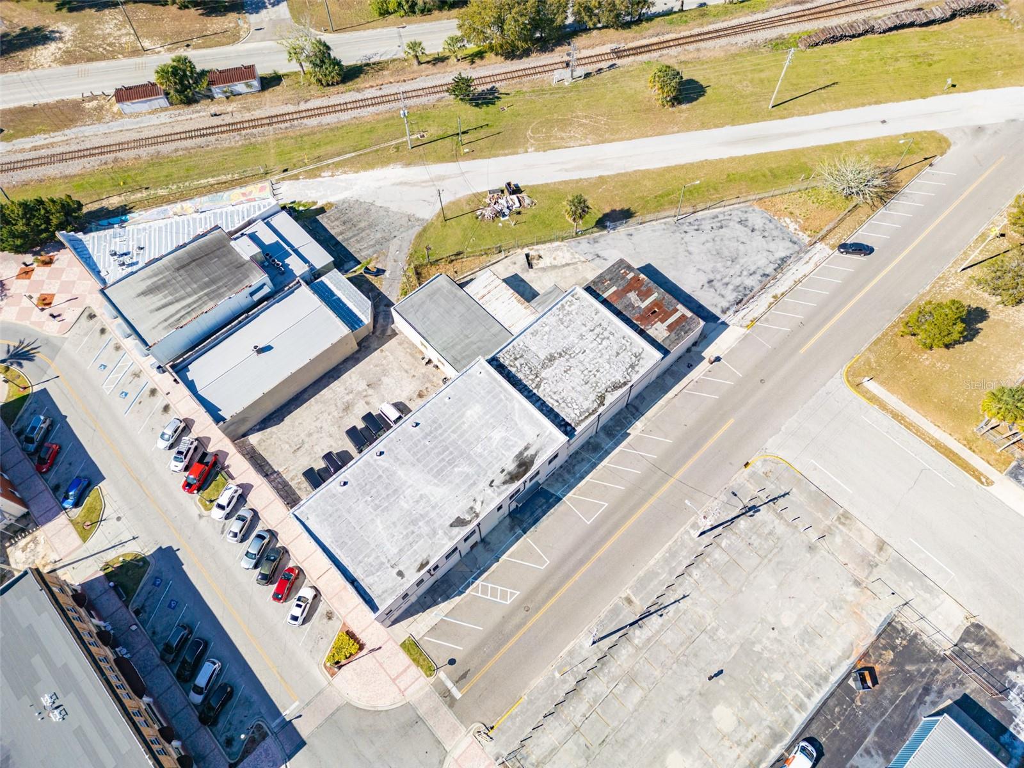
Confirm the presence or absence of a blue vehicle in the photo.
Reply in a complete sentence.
Yes, there's a blue vehicle here.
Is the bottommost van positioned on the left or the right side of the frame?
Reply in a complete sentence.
The bottommost van appears in the right half of the scene.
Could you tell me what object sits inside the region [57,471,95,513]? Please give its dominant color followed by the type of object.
blue car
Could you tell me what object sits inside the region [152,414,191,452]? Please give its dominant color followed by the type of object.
white car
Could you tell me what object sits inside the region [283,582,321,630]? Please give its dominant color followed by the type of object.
white car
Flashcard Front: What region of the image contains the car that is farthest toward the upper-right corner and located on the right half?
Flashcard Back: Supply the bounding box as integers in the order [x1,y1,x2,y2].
[837,240,874,257]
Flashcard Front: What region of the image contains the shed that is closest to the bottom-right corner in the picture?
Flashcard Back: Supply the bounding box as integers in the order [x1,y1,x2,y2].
[885,712,1007,768]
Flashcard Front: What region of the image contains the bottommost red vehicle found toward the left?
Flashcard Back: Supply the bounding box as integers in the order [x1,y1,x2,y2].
[267,563,302,605]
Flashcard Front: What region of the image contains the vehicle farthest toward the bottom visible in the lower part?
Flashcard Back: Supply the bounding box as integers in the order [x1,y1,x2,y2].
[775,726,825,768]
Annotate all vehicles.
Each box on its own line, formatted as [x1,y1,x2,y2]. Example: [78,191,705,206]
[302,471,324,495]
[194,676,237,731]
[178,449,224,497]
[322,454,343,479]
[165,433,203,474]
[362,414,385,443]
[152,414,191,452]
[207,481,246,522]
[237,527,274,572]
[184,656,226,709]
[31,439,66,475]
[18,413,54,453]
[171,634,212,686]
[153,618,196,668]
[57,471,95,513]
[837,240,874,257]
[221,504,257,547]
[346,428,370,456]
[283,582,321,630]
[267,563,302,605]
[775,726,825,768]
[251,542,290,588]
